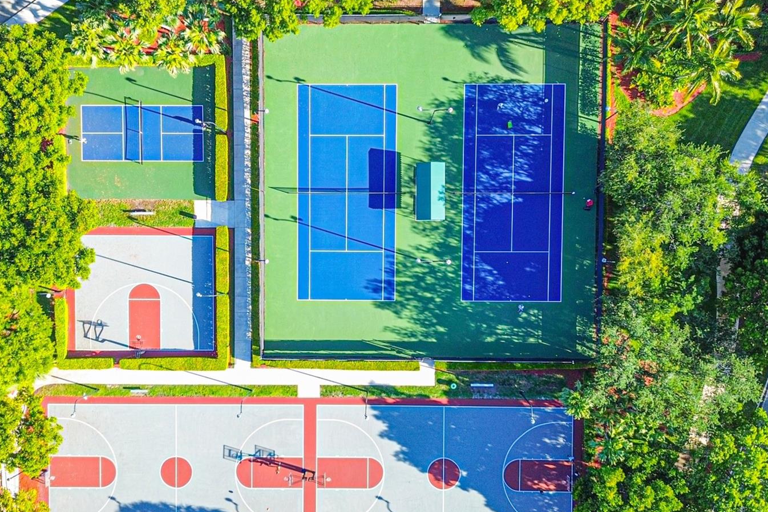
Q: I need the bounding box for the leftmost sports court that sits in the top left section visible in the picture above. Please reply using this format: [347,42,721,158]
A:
[65,66,217,201]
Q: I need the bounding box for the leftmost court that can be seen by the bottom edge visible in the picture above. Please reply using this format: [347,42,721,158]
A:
[40,395,310,512]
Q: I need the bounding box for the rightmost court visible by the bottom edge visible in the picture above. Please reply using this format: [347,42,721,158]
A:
[310,397,581,512]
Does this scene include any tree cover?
Yes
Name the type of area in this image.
sports ground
